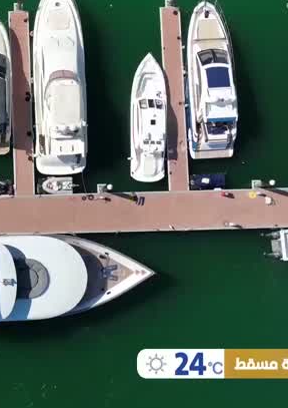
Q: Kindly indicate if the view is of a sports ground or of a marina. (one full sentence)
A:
What you see here is a marina.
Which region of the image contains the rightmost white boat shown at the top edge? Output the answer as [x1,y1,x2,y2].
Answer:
[173,0,242,162]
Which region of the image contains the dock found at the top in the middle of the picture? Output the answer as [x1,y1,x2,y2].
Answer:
[159,8,189,190]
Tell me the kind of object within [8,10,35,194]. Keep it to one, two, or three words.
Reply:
pier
